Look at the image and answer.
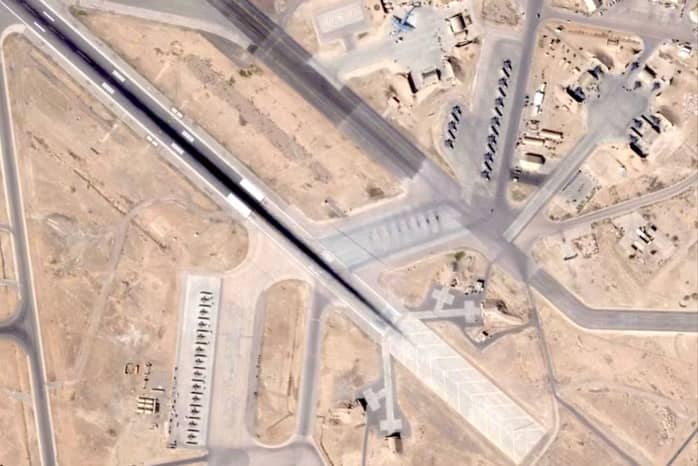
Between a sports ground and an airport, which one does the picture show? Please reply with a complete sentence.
The area seen from above is an airport.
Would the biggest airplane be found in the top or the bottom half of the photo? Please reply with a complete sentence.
The top half of the photo is where the biggest airplane is.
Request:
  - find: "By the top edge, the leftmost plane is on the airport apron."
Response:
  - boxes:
[394,11,414,31]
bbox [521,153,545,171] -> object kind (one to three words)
hangar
